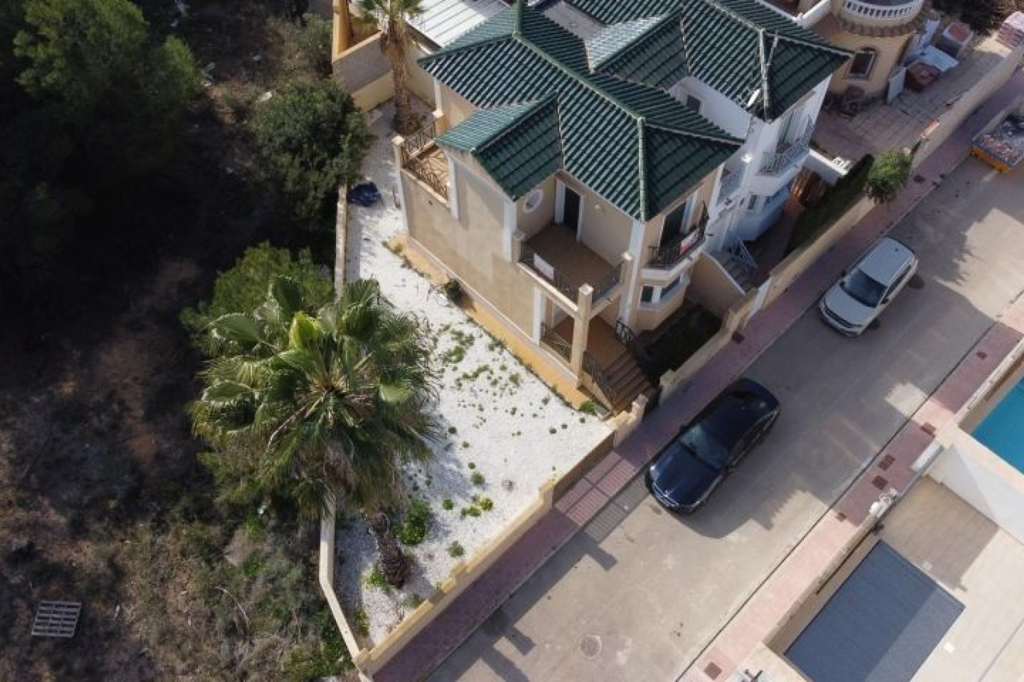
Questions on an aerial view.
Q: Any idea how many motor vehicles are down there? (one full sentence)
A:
The picture shows 2 motor vehicles.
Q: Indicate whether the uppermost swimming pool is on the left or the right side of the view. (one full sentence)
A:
It is on the right.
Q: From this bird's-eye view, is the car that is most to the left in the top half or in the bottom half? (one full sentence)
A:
Seen from above, the car that is most to the left lies in the bottom half of the view.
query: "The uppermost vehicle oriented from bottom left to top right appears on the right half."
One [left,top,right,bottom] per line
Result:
[817,236,927,343]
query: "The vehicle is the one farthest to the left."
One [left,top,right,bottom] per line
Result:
[646,382,780,513]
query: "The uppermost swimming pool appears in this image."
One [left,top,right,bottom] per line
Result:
[971,368,1024,468]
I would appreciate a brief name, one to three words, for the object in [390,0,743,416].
house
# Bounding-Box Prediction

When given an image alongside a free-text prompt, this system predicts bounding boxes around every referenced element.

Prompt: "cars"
[817,236,927,343]
[646,382,780,513]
